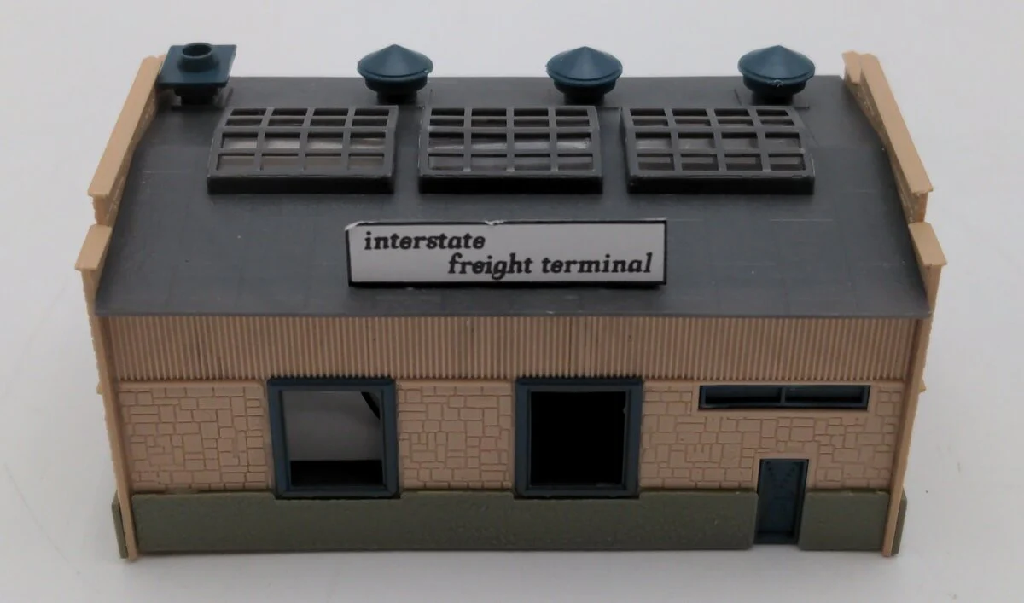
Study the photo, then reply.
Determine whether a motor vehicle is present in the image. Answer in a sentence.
No, there appears to be no motor vehicle in this shot.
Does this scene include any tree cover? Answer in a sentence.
No, there is no tree cover in the image.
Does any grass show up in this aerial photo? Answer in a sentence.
No, grass can't be seen anywhere here.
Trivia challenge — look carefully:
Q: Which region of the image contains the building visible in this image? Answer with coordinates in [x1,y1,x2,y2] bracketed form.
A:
[76,43,945,559]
